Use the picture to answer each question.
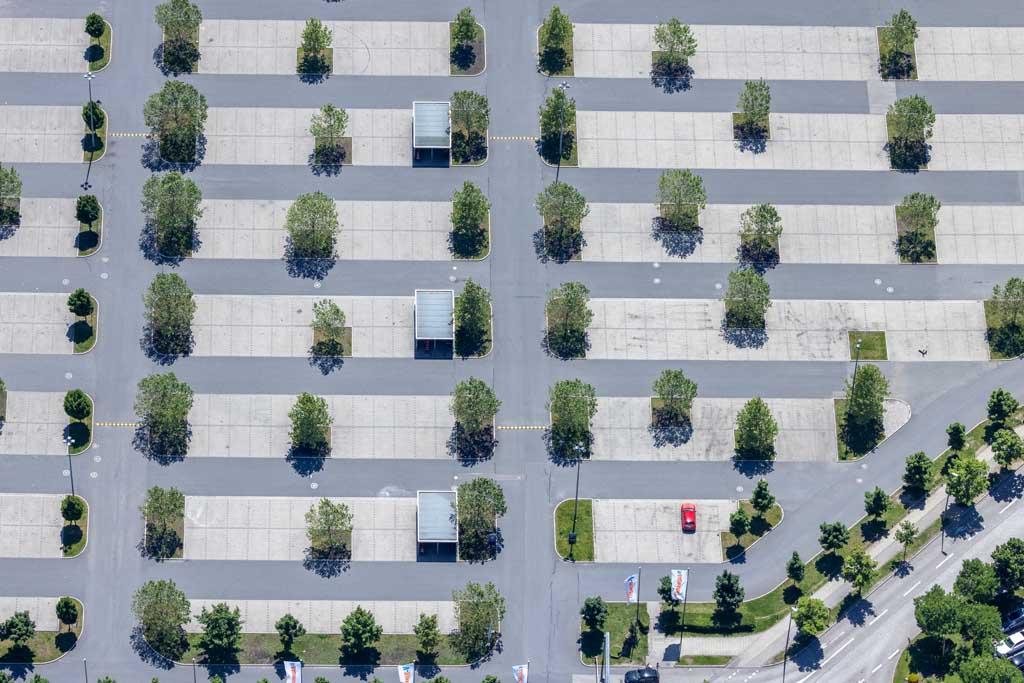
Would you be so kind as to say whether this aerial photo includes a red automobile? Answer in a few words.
Yes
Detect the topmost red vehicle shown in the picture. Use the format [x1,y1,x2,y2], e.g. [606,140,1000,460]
[681,506,697,533]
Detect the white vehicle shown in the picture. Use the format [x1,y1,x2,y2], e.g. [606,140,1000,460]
[995,631,1024,659]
